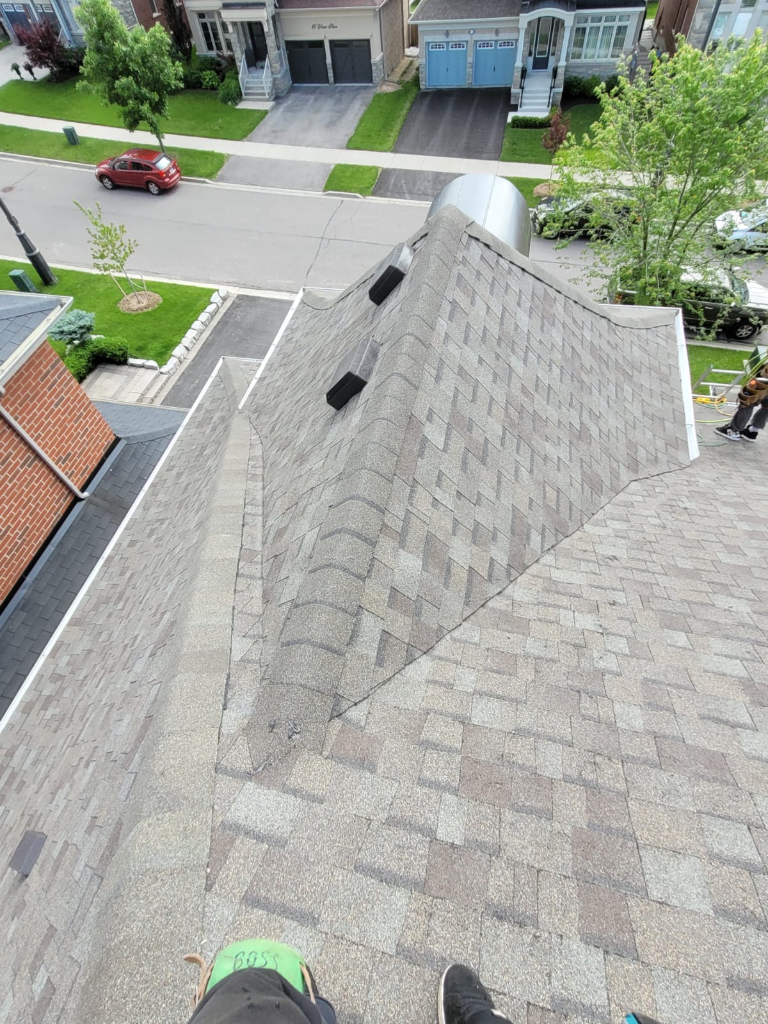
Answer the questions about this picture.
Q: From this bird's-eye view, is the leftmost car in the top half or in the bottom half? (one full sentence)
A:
The leftmost car is in the top half of the image.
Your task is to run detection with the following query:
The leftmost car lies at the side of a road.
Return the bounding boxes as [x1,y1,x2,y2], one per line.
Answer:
[86,142,178,193]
